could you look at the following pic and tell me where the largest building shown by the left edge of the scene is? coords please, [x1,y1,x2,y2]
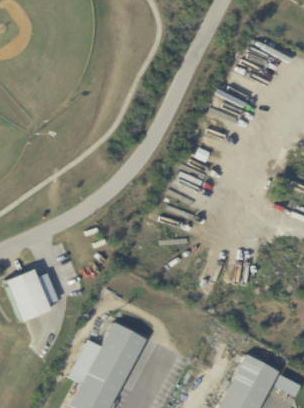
[6,270,51,322]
